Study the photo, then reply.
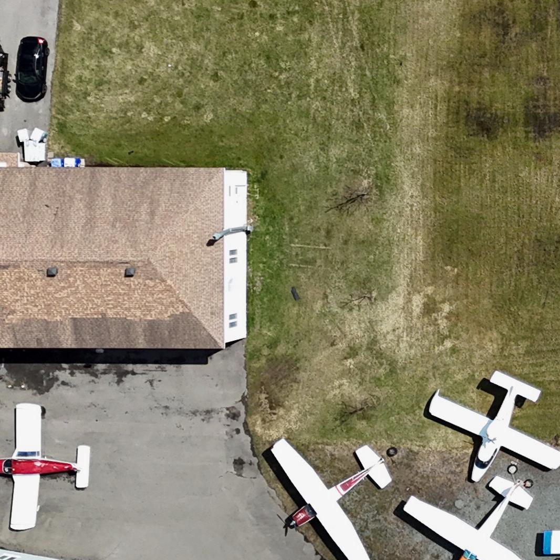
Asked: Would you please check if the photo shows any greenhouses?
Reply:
No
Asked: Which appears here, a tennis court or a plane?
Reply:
plane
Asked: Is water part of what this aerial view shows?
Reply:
No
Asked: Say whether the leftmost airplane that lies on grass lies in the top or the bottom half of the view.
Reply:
bottom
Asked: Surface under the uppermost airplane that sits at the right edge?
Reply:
grass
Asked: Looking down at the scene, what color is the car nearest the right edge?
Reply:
black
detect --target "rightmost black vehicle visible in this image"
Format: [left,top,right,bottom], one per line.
[13,36,49,99]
